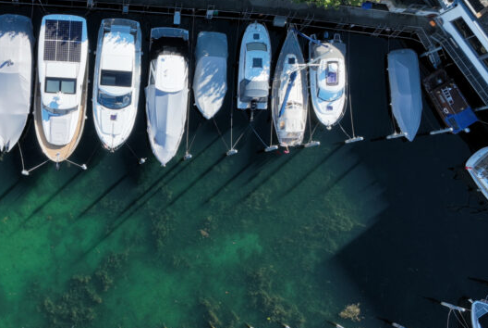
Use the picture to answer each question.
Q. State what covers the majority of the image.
water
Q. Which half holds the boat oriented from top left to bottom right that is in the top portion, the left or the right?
right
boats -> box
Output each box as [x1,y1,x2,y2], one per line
[0,0,36,171]
[380,31,424,142]
[268,21,333,152]
[231,20,271,149]
[142,11,193,171]
[188,14,231,155]
[464,150,488,203]
[26,0,93,172]
[422,66,481,137]
[86,5,146,165]
[307,24,349,142]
